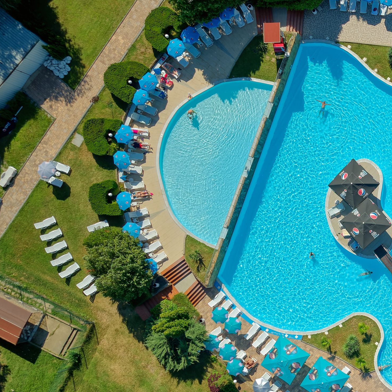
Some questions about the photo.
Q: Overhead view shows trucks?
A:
No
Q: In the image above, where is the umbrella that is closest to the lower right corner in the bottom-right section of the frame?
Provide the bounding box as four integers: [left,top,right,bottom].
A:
[301,357,350,392]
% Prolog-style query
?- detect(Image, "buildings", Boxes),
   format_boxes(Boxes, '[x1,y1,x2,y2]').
[0,291,52,345]
[0,11,61,118]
